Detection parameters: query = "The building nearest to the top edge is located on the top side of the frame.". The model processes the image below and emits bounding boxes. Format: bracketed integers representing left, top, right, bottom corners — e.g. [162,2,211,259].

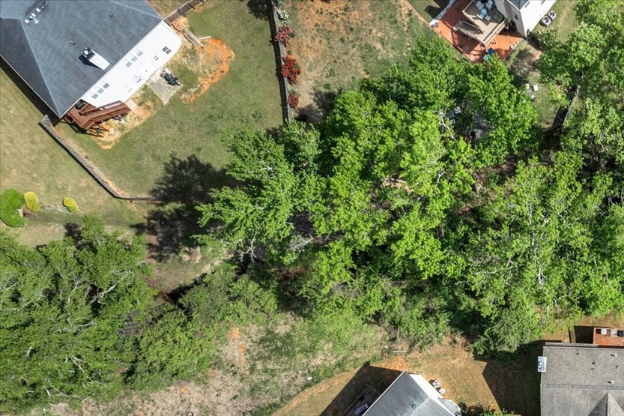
[475,0,556,36]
